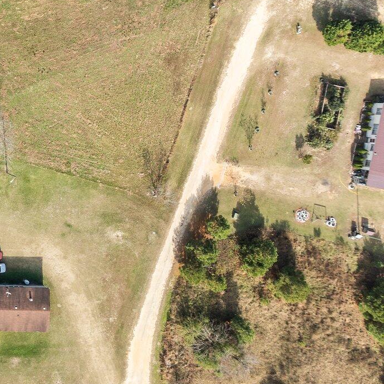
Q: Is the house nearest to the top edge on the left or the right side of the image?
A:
right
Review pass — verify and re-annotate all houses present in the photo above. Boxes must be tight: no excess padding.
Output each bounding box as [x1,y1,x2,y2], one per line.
[0,283,53,333]
[350,111,384,193]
